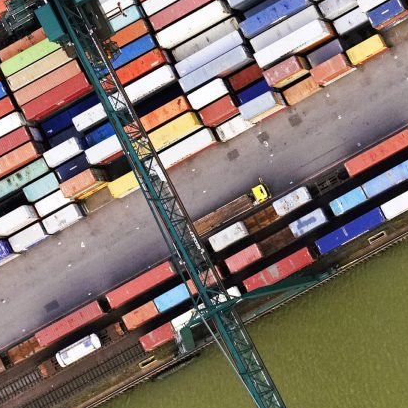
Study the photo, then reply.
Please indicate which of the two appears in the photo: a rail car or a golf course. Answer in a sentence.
Visible in the photo is a rail car.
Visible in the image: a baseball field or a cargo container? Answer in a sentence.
This aerial view contains a cargo container.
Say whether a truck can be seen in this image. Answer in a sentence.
Yes, the picture does show a truck.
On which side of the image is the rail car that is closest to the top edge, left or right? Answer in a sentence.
The rail car that is closest to the top edge is on the right side of the image.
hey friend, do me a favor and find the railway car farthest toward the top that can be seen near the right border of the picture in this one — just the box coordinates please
[311,149,408,200]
